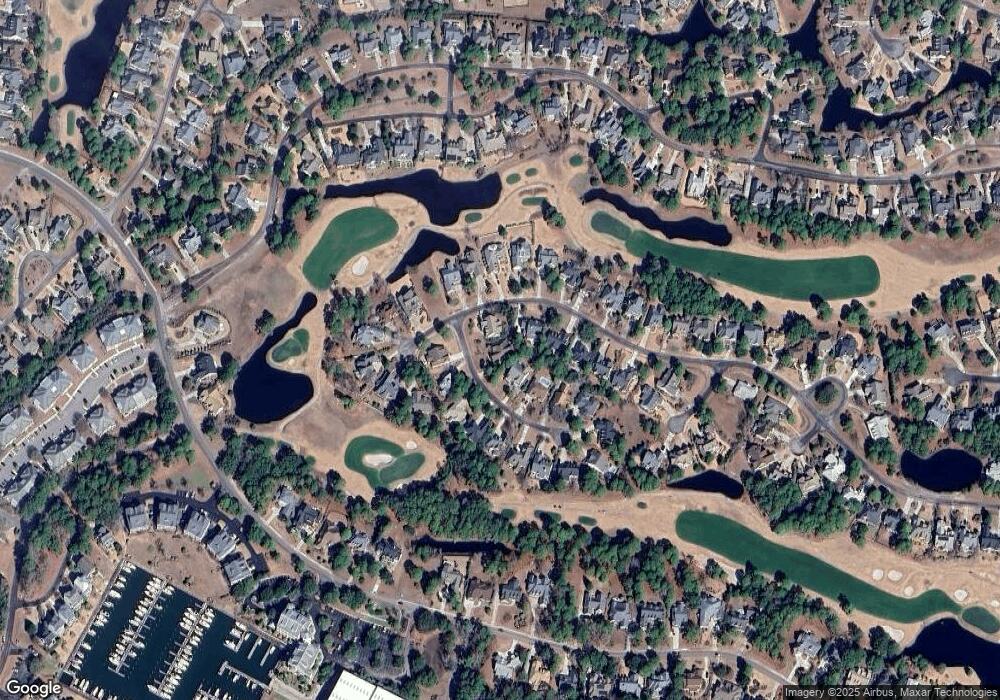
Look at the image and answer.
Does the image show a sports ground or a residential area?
residential area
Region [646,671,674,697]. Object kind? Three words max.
house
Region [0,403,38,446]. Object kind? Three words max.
building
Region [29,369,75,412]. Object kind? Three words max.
building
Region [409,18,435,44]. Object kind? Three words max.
house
